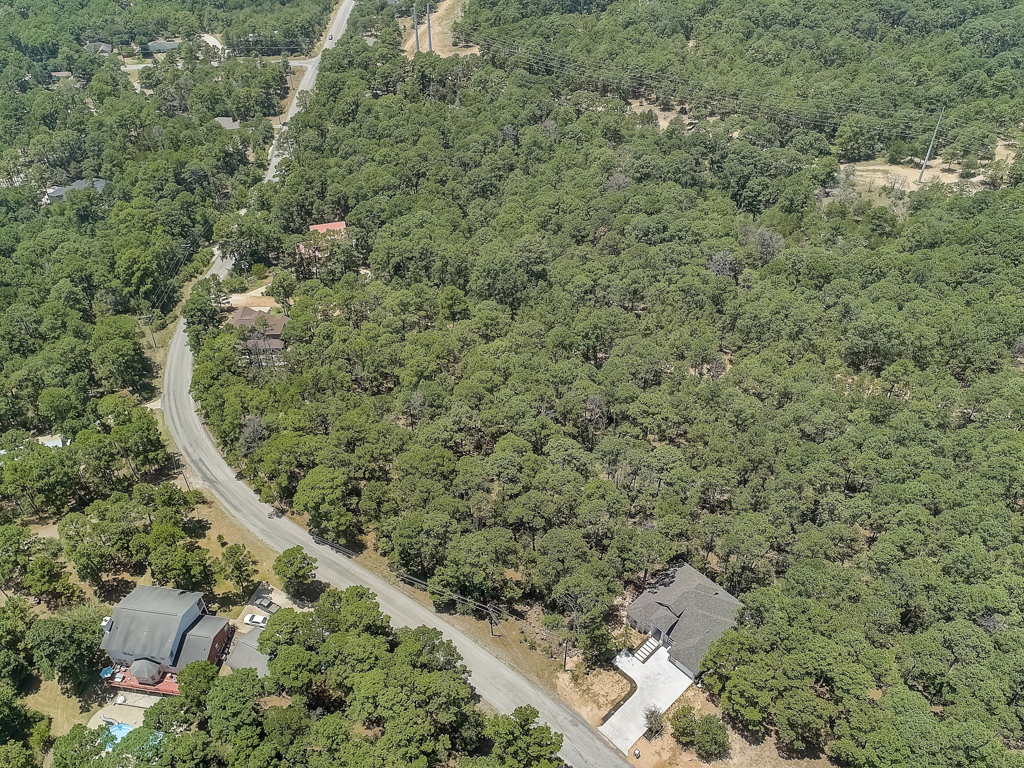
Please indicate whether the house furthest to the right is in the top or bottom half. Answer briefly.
bottom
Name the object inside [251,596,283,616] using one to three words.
vehicle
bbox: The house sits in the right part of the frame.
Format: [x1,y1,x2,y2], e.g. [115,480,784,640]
[625,559,752,680]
